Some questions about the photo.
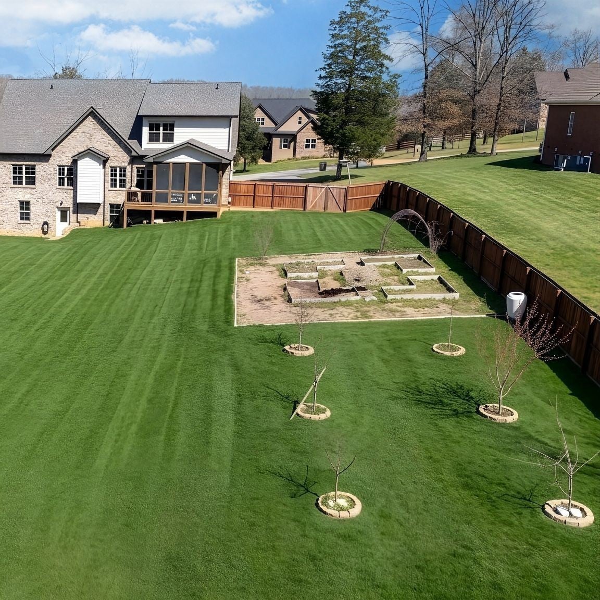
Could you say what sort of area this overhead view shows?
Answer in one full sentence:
The picture captures a residential area.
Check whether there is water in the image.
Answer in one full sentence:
No, there's no water in this view.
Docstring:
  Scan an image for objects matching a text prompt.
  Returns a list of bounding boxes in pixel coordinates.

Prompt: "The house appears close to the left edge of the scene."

[0,76,240,242]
